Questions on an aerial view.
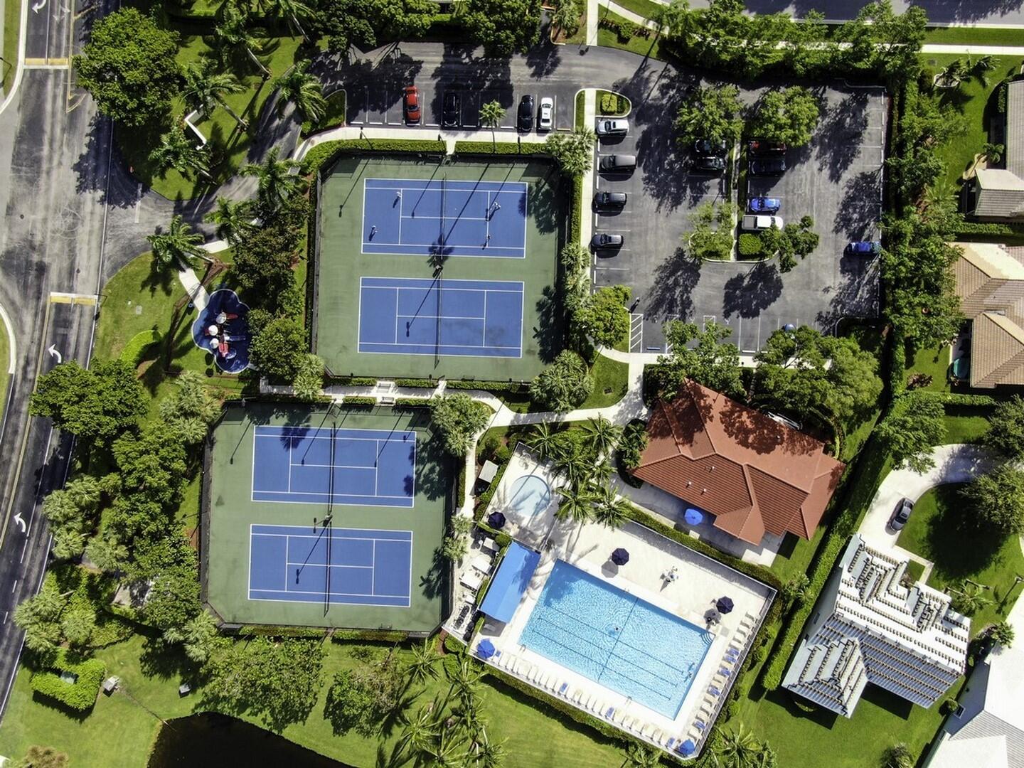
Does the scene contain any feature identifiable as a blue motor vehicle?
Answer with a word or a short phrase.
Yes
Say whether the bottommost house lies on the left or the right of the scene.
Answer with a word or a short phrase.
right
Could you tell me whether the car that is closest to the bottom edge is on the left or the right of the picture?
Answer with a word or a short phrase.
right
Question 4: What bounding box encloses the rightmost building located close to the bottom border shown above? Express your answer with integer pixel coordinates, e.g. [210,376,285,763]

[917,657,1024,768]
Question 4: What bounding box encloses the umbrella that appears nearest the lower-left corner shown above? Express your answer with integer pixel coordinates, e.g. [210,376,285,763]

[476,638,495,657]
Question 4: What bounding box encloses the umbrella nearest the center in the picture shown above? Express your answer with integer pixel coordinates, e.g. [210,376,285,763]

[487,510,506,529]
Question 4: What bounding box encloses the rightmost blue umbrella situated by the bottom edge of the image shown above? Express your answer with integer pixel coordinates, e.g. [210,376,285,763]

[678,737,695,755]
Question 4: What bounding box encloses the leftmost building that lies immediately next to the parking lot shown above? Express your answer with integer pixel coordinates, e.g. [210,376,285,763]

[632,378,846,546]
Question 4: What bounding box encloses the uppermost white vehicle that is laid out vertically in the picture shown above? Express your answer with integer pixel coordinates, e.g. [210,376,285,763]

[538,97,553,131]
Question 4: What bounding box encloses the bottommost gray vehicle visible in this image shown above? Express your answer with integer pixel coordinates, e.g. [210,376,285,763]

[889,497,914,530]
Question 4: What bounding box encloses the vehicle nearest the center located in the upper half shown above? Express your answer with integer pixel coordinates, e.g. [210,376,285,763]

[591,234,624,249]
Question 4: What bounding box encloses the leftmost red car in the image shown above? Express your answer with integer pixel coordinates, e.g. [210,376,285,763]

[405,89,419,123]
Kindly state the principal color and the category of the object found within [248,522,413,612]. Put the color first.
blue tennis court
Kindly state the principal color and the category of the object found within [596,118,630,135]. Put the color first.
white car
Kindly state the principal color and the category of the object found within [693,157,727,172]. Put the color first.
black car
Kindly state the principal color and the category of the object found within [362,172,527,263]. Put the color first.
blue tennis court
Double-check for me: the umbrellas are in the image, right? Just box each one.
[487,510,506,529]
[714,595,733,613]
[611,546,629,565]
[678,737,695,755]
[476,638,495,657]
[683,506,703,526]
